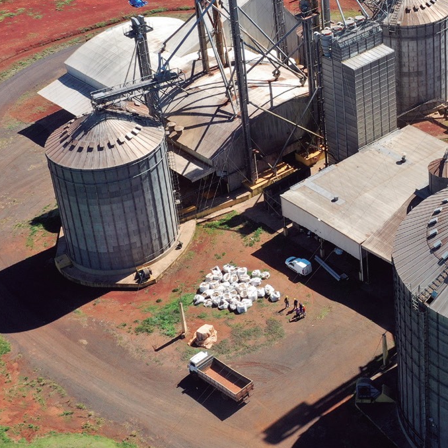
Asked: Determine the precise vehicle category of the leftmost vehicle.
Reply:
truck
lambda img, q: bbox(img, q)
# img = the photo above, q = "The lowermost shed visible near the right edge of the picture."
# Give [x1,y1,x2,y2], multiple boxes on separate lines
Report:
[281,125,448,301]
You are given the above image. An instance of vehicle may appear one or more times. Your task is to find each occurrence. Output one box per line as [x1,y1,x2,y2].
[284,253,316,276]
[183,349,254,406]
